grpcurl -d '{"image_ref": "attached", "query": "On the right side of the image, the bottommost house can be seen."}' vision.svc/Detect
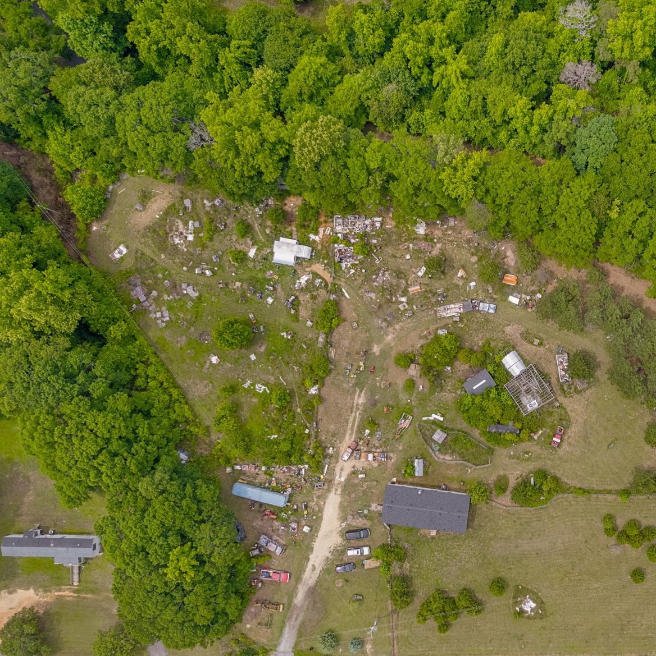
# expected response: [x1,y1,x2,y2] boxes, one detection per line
[374,483,471,535]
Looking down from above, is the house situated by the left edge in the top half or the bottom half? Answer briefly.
bottom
